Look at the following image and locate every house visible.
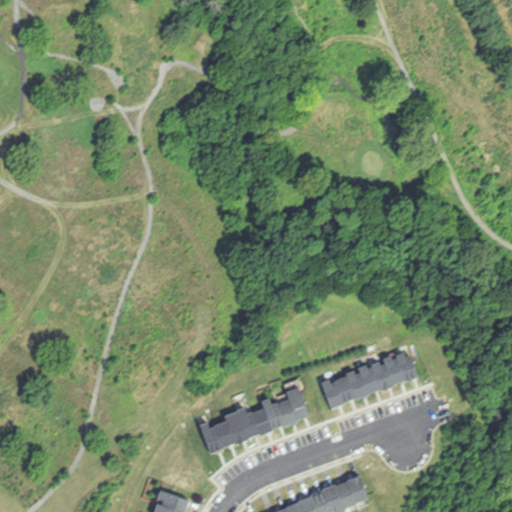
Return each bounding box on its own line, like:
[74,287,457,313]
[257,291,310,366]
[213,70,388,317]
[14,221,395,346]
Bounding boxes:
[153,492,188,512]
[322,352,418,410]
[199,389,308,454]
[270,477,368,512]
